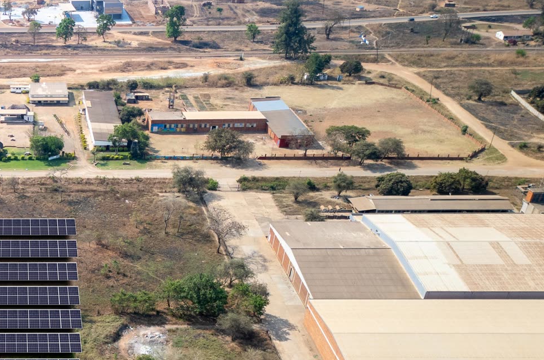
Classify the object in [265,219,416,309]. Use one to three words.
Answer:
building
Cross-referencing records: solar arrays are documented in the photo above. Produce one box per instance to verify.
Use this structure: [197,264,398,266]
[0,310,82,333]
[0,263,78,281]
[0,240,77,260]
[0,334,82,357]
[0,287,80,309]
[0,219,77,240]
